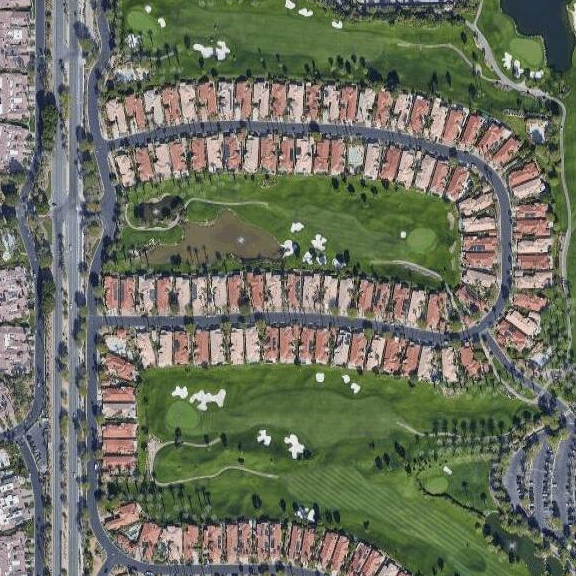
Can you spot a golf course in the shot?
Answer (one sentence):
Yes, the image includes a golf course.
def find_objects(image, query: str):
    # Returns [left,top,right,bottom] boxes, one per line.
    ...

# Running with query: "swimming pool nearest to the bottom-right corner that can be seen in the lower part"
[529,349,549,367]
